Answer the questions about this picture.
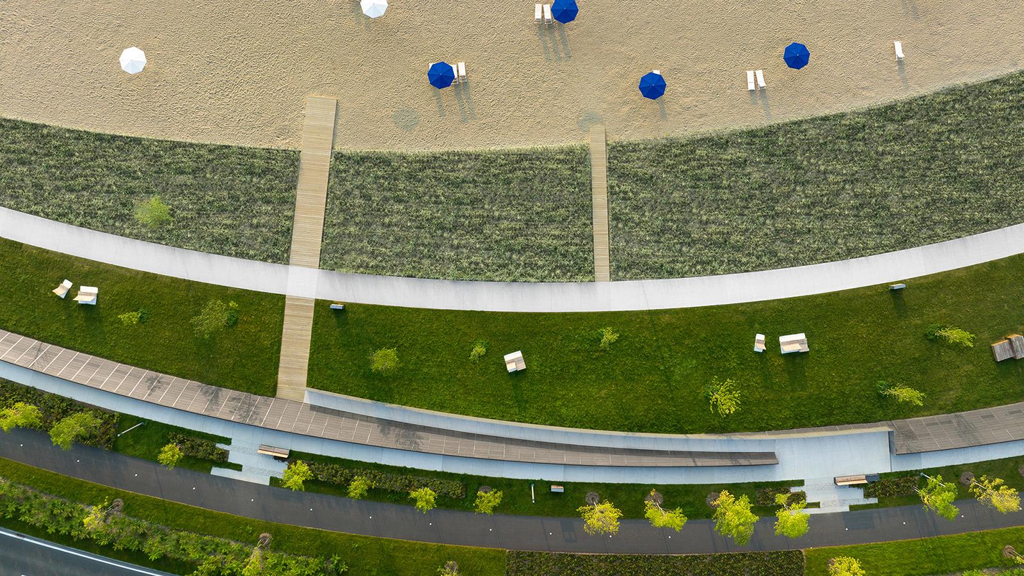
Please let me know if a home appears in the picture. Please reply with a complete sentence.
No, there's no home here.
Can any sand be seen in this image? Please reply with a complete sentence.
Yes, sand shows up in the scene.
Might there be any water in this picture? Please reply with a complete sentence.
No, no water is visible.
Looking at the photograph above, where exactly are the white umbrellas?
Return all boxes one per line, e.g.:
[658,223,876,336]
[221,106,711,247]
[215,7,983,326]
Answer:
[121,47,149,74]
[361,0,388,20]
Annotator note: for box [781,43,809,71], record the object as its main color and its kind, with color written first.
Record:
blue umbrella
